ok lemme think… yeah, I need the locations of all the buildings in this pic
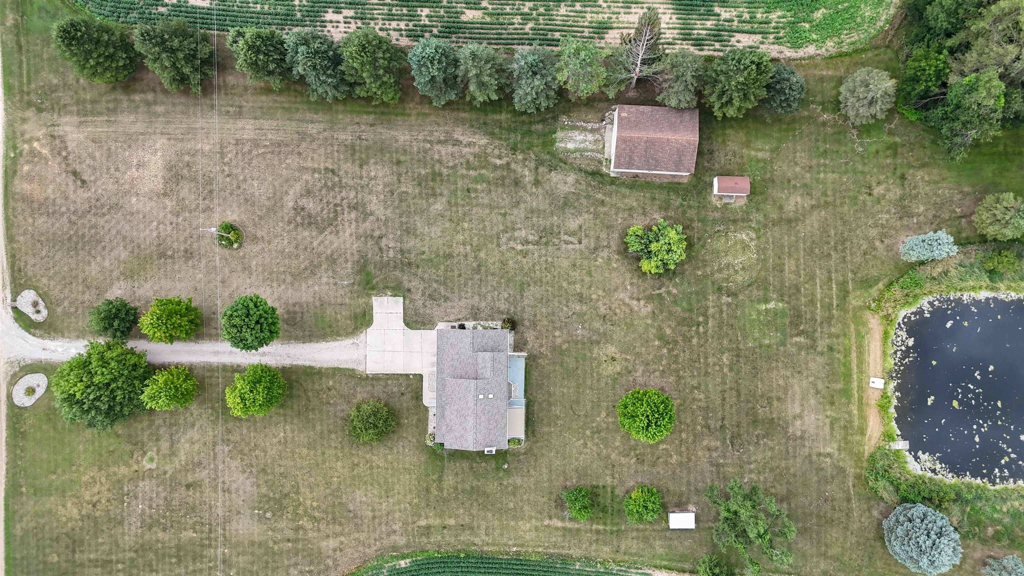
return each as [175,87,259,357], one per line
[667,507,694,528]
[435,329,512,454]
[611,104,700,177]
[713,176,751,196]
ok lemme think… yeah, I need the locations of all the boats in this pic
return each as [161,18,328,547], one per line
[869,377,886,389]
